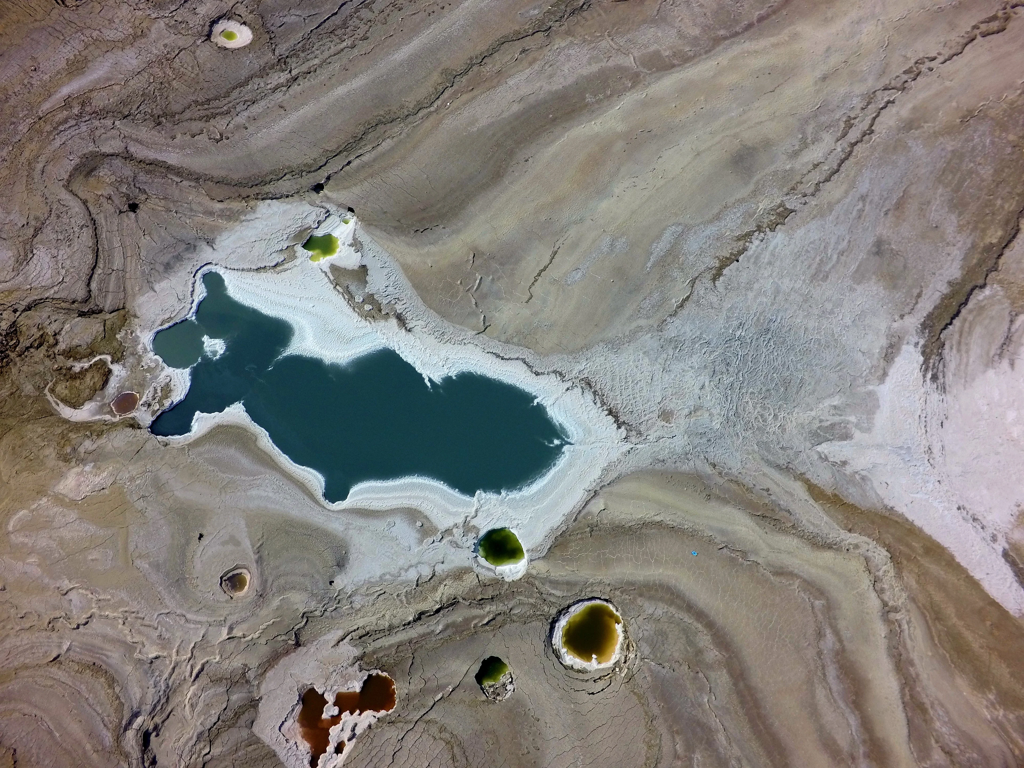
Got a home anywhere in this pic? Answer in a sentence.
No, the picture doesn't show any home.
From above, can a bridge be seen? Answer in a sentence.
No, there's no bridge here.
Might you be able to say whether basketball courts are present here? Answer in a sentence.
No, no basketball court is visible in the scene.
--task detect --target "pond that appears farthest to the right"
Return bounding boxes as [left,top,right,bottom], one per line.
[569,610,612,656]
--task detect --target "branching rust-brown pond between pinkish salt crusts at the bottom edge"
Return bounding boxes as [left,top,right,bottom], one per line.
[302,677,393,760]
